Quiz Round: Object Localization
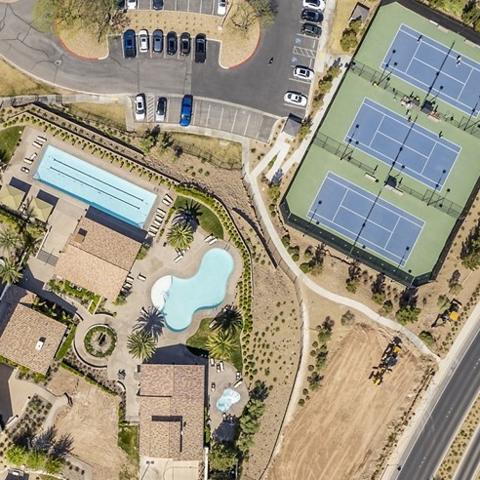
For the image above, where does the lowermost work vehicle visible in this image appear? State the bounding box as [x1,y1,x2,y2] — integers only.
[374,340,403,383]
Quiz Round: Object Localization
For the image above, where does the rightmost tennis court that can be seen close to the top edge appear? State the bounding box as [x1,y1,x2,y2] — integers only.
[380,23,480,118]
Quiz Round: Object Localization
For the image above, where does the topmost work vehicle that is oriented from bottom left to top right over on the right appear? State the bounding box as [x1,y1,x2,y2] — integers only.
[439,306,463,326]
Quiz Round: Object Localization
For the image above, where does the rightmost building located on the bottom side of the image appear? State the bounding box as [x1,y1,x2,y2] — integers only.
[137,365,204,461]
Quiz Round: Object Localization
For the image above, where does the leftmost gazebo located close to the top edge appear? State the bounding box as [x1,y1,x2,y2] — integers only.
[349,2,370,26]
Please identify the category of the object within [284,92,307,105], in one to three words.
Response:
vehicle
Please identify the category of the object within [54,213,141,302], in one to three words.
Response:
building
